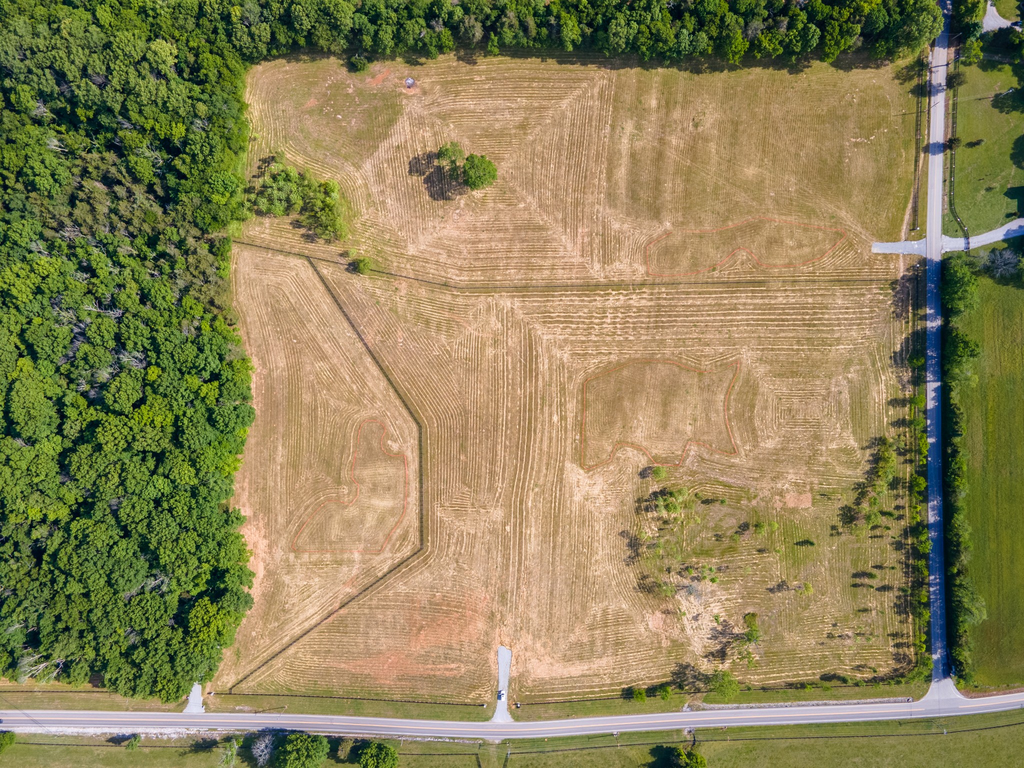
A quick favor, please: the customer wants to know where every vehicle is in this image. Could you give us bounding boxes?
[499,691,506,702]
[1014,20,1024,26]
